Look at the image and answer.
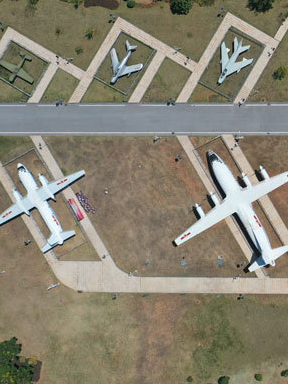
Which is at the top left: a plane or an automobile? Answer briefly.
plane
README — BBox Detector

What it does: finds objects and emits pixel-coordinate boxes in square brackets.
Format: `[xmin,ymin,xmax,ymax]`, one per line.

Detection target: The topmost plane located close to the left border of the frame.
[0,51,34,84]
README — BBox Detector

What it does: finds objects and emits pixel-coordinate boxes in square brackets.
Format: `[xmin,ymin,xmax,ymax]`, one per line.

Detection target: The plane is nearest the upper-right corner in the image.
[217,35,252,86]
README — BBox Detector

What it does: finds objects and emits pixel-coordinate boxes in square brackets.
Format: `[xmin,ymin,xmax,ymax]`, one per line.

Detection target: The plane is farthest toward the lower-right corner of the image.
[172,150,288,273]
